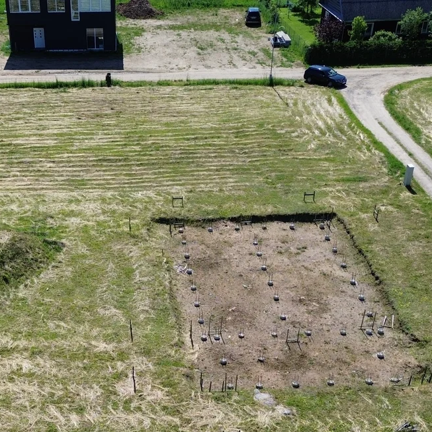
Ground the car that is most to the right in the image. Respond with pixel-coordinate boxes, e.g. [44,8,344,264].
[301,61,349,86]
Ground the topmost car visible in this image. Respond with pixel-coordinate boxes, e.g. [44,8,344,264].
[242,1,263,20]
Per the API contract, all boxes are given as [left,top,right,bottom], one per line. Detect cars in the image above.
[301,61,349,86]
[242,1,263,20]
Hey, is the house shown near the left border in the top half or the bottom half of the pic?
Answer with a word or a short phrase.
top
